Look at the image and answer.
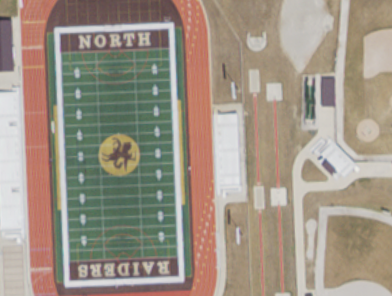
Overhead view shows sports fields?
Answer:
Yes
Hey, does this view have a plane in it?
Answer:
No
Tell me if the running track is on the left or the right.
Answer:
left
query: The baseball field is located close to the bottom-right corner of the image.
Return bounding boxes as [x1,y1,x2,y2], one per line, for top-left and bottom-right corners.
[316,206,392,296]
